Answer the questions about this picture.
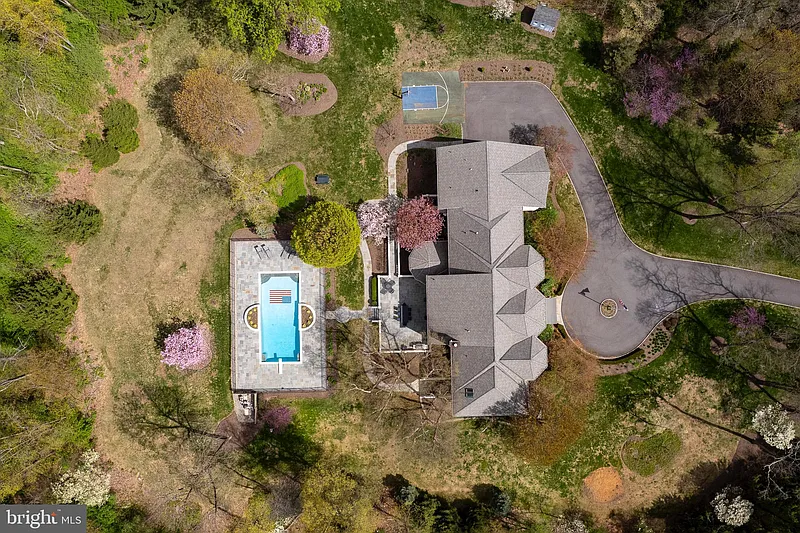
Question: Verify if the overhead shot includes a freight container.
No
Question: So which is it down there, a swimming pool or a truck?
swimming pool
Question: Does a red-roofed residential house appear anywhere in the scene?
No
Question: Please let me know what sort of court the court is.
basketball court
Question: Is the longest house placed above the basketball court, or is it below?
below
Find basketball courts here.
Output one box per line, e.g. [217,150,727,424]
[402,71,465,123]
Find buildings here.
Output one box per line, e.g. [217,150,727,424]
[530,6,560,33]
[409,140,555,417]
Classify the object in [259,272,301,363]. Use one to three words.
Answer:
swimming pool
